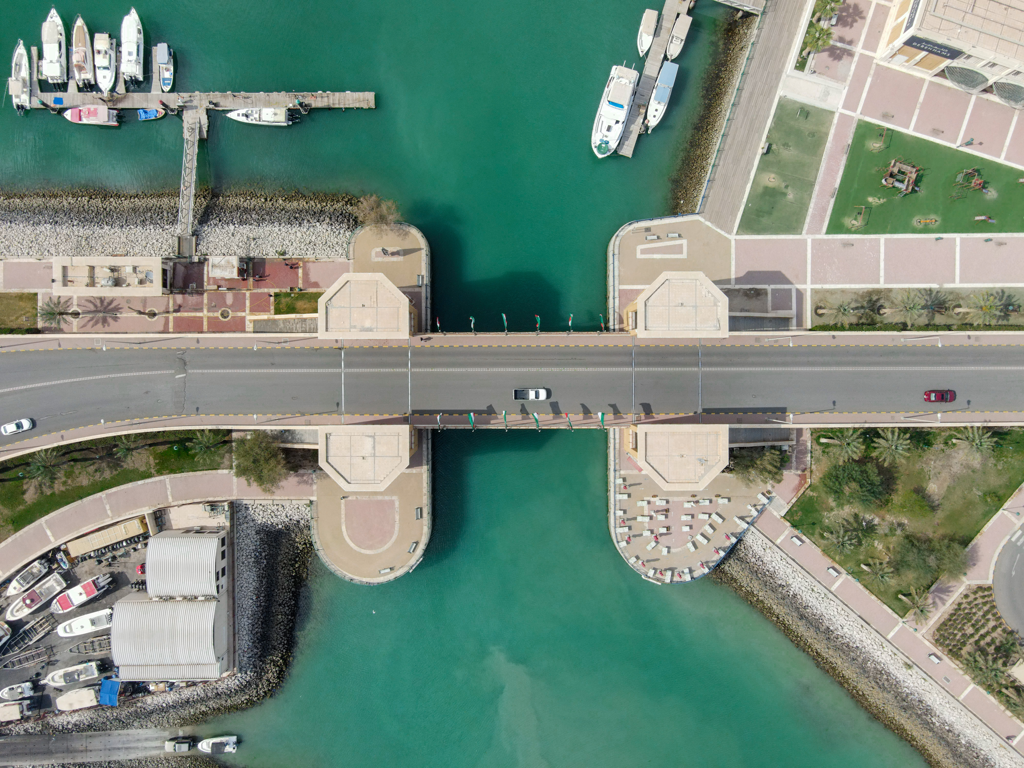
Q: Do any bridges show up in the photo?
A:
Yes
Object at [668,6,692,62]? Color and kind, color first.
white boat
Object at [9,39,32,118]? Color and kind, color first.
white boat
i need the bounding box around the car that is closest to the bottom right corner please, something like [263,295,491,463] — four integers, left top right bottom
[923,389,953,403]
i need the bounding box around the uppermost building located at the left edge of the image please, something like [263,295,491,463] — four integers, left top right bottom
[51,256,177,297]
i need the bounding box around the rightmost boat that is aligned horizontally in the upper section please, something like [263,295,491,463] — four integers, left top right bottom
[223,106,299,126]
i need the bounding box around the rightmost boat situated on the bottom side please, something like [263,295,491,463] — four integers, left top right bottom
[197,737,246,754]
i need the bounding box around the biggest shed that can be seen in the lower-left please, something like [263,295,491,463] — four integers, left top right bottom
[110,529,228,680]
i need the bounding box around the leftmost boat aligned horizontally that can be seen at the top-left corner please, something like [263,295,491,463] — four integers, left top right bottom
[64,106,128,127]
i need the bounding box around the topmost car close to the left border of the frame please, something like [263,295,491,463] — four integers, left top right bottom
[1,418,35,436]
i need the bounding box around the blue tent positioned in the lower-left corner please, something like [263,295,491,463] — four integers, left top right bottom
[99,673,125,706]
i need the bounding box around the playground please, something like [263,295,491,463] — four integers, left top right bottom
[826,120,1024,234]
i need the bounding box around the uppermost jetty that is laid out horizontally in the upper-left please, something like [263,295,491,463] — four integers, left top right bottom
[31,46,375,140]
